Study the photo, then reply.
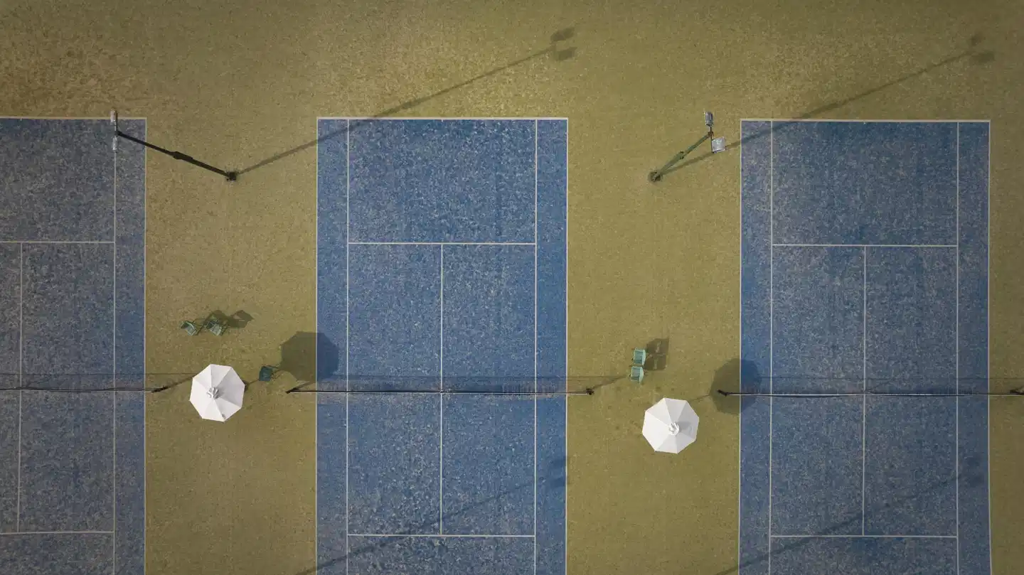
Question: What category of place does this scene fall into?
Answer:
sports ground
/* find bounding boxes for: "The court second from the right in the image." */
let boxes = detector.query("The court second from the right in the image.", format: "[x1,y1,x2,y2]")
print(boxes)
[316,117,568,575]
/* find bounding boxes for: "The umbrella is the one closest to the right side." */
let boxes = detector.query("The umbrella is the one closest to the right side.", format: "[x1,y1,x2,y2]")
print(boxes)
[643,398,699,453]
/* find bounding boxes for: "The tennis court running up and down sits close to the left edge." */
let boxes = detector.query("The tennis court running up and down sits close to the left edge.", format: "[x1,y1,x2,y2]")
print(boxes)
[0,116,146,575]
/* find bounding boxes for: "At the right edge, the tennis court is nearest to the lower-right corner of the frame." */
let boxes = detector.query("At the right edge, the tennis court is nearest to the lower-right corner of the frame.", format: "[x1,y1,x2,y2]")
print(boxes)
[738,118,992,575]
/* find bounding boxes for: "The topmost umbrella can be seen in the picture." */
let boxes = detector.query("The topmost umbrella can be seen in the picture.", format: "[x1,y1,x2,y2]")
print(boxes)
[190,365,245,420]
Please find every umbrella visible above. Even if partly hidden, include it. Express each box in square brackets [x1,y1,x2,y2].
[643,398,699,453]
[190,365,245,420]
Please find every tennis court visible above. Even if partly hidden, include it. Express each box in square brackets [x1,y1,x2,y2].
[316,117,568,575]
[738,118,992,575]
[0,116,146,575]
